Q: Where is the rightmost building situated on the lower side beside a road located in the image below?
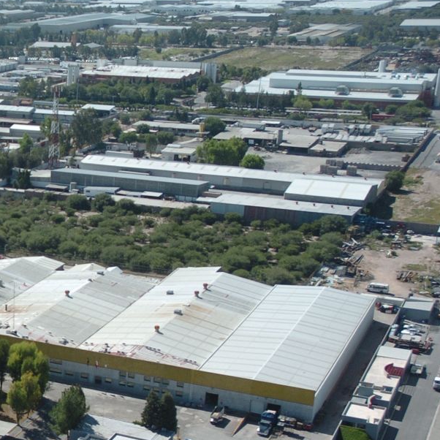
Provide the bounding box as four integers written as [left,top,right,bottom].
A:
[399,298,437,335]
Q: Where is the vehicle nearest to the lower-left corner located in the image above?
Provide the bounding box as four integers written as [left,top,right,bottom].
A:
[211,406,224,421]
